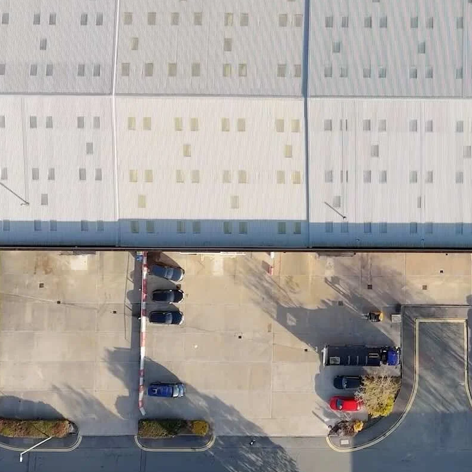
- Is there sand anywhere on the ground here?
No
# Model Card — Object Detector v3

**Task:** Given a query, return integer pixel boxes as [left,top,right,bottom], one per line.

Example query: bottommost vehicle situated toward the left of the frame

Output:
[146,381,185,398]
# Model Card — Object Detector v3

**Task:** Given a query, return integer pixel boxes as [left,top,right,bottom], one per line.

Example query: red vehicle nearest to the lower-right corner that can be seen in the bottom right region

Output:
[332,397,362,411]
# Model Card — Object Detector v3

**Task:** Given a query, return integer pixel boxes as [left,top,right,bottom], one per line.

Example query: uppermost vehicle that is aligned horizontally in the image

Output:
[150,263,185,281]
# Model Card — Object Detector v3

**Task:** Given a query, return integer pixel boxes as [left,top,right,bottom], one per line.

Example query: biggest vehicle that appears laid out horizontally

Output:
[323,346,401,369]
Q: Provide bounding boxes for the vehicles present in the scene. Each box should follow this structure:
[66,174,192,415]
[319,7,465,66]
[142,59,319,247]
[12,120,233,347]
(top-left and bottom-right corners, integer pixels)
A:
[359,312,383,322]
[152,288,184,304]
[332,397,362,411]
[323,346,401,369]
[150,263,185,281]
[334,376,369,391]
[149,309,184,325]
[146,381,185,398]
